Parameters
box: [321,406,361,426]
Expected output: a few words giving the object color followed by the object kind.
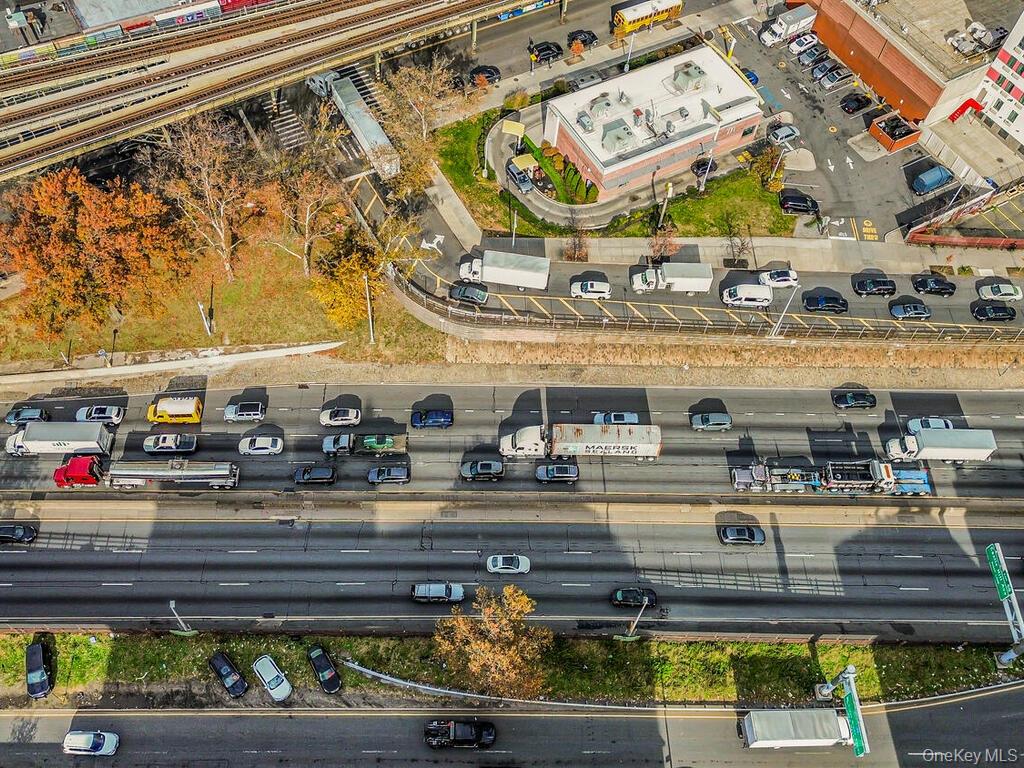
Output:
white car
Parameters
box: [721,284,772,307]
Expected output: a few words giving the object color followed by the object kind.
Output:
white vehicle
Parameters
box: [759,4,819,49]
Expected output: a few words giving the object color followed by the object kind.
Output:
white truck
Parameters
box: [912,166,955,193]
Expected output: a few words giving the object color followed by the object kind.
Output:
blue vehicle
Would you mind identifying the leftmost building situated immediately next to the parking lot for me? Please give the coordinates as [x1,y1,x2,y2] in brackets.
[542,38,768,204]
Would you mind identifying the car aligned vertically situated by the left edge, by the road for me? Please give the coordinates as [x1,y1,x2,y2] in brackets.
[23,639,51,699]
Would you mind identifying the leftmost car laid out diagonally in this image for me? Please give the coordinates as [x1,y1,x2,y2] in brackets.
[207,649,249,699]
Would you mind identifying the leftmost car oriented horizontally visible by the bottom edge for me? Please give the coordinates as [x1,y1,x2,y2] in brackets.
[62,730,121,755]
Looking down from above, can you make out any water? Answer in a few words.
No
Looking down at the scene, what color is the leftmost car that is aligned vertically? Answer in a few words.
black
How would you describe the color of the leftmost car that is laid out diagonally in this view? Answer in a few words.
black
